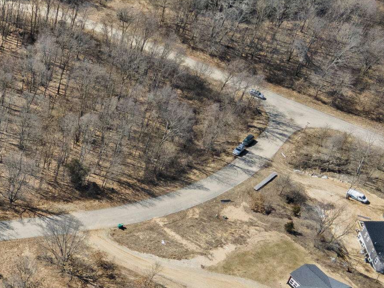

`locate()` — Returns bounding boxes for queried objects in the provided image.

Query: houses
[286,265,352,288]
[351,214,384,285]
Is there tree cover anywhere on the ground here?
Yes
